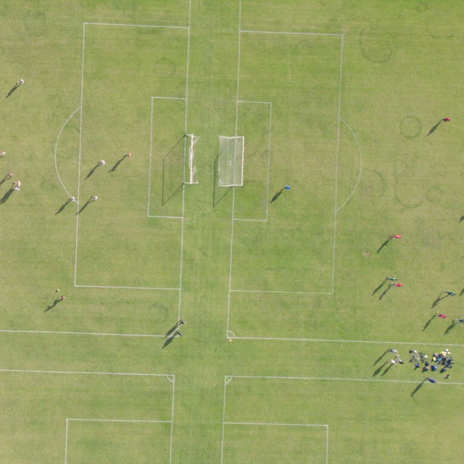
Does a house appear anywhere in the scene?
No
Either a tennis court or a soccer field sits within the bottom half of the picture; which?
soccer field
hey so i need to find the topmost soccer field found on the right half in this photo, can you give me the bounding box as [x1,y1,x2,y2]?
[227,0,464,345]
